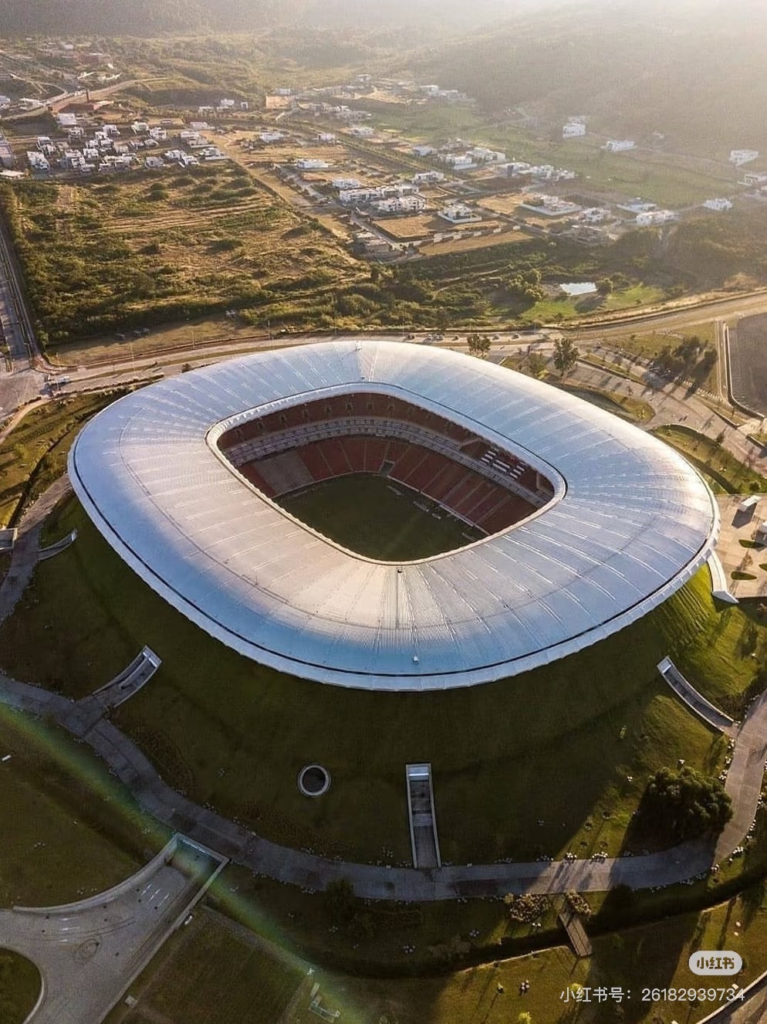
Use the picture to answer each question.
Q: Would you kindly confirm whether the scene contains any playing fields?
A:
Yes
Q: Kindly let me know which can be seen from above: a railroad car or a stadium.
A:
stadium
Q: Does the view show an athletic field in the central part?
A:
Yes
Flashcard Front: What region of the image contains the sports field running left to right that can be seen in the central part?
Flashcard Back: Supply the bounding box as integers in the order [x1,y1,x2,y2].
[272,472,489,560]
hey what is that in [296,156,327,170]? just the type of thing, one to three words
house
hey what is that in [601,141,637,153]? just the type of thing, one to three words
house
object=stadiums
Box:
[64,338,729,693]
